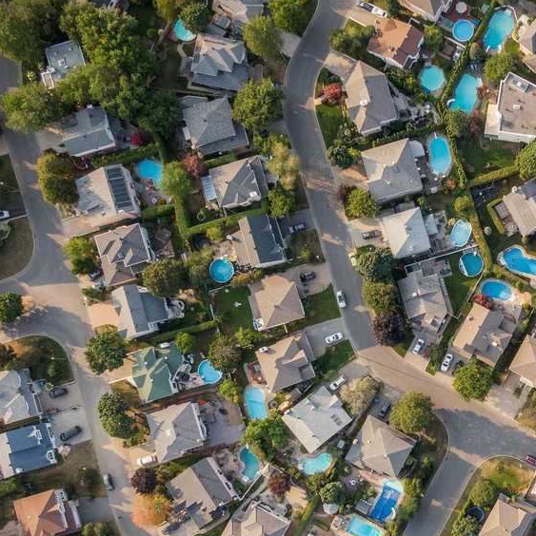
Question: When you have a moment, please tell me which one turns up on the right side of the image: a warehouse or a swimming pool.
swimming pool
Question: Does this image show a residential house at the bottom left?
Yes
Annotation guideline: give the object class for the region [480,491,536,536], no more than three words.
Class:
house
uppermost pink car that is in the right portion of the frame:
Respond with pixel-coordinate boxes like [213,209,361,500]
[522,454,536,467]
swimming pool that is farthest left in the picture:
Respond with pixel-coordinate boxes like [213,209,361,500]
[134,154,166,186]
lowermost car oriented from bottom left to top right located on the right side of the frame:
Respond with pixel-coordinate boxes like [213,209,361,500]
[377,399,391,418]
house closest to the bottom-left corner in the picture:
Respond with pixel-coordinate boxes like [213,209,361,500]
[13,489,83,536]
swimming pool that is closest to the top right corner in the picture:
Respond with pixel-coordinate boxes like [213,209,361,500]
[480,8,515,50]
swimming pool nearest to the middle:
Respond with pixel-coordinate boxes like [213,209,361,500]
[210,258,235,282]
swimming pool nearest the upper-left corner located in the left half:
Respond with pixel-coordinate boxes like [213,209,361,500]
[168,14,197,44]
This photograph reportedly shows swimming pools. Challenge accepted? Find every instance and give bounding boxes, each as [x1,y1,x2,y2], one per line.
[168,14,197,44]
[197,359,225,388]
[236,445,262,479]
[240,383,269,423]
[134,154,166,186]
[367,484,402,528]
[460,251,484,276]
[451,17,475,42]
[417,63,447,93]
[448,71,483,112]
[298,450,333,477]
[342,513,387,536]
[450,219,472,247]
[426,137,453,178]
[478,277,514,303]
[210,258,235,282]
[480,8,515,50]
[500,244,536,277]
